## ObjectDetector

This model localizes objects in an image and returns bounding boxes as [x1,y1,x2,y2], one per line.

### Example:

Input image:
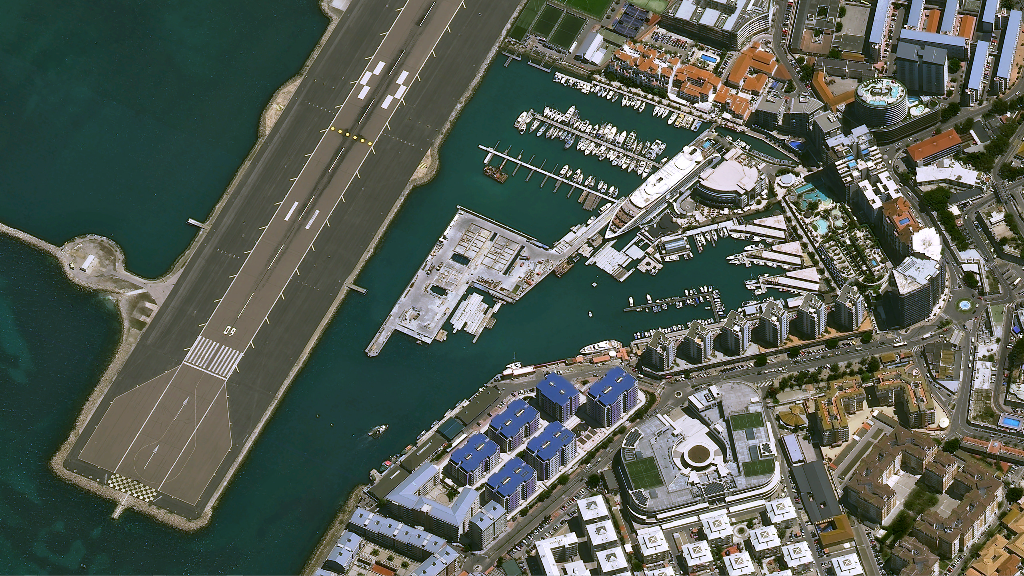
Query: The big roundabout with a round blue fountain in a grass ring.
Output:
[942,287,988,323]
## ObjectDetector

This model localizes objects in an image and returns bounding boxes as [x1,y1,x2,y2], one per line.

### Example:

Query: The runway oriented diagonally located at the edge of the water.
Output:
[78,0,462,505]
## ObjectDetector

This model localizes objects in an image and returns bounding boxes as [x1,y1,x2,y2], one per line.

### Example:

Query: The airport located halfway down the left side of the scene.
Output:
[0,0,527,532]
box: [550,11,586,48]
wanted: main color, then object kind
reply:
green soccer field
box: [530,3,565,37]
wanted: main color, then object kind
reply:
green soccer field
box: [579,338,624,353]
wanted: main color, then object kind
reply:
white boat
